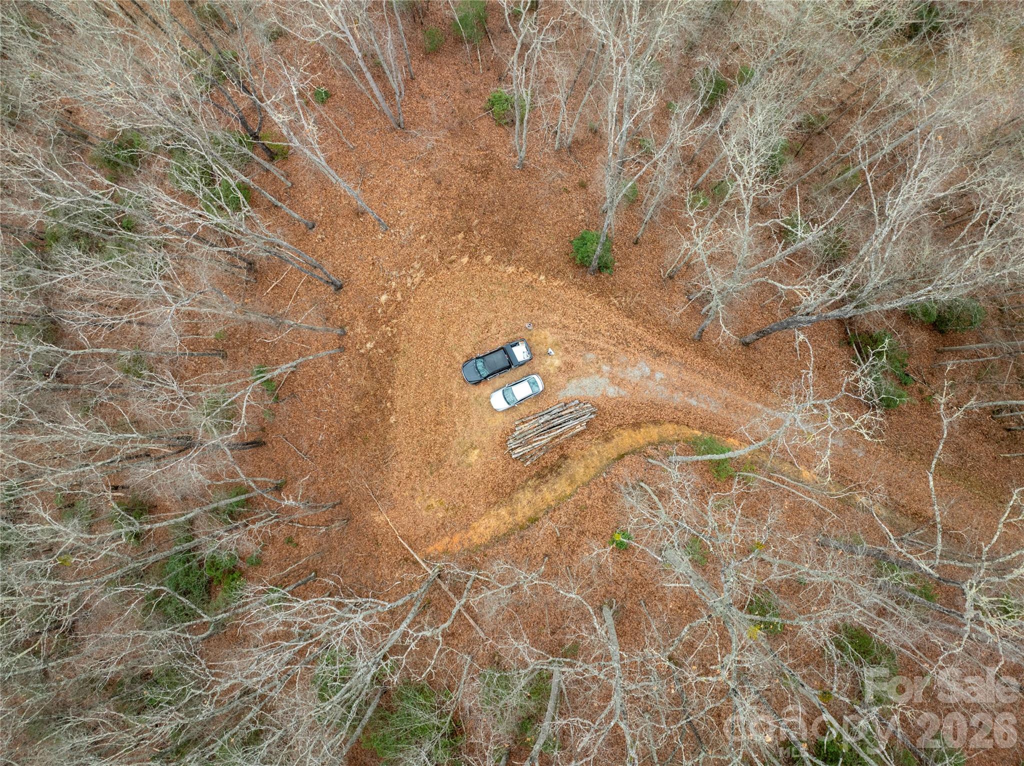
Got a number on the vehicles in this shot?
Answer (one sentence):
In total, there are 2 vehicles in the scene.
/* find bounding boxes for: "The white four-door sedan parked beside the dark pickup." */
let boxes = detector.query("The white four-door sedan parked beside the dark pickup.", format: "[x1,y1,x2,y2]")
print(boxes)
[489,375,546,413]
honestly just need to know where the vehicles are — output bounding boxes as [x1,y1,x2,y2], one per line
[489,375,546,413]
[461,338,535,387]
